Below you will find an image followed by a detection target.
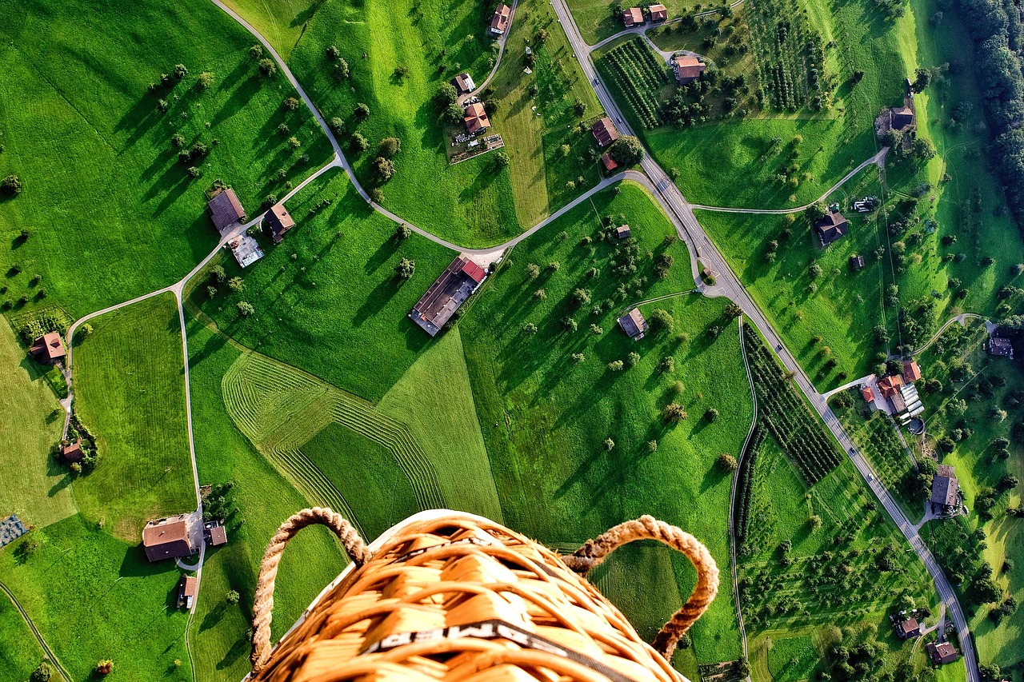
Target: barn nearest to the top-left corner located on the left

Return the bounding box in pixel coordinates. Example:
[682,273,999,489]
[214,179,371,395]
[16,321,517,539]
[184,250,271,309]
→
[206,188,247,233]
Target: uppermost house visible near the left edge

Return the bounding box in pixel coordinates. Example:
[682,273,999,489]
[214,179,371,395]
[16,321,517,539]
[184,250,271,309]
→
[28,331,67,362]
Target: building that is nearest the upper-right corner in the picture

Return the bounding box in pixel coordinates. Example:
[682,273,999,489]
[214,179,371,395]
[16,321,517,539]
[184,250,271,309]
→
[888,106,918,130]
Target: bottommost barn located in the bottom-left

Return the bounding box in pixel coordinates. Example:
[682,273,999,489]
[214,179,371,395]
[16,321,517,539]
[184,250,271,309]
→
[180,575,199,598]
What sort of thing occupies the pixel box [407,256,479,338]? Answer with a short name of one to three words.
barn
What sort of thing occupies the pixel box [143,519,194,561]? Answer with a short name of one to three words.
house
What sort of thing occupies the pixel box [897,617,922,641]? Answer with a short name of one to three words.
house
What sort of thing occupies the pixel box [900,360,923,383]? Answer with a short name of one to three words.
barn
